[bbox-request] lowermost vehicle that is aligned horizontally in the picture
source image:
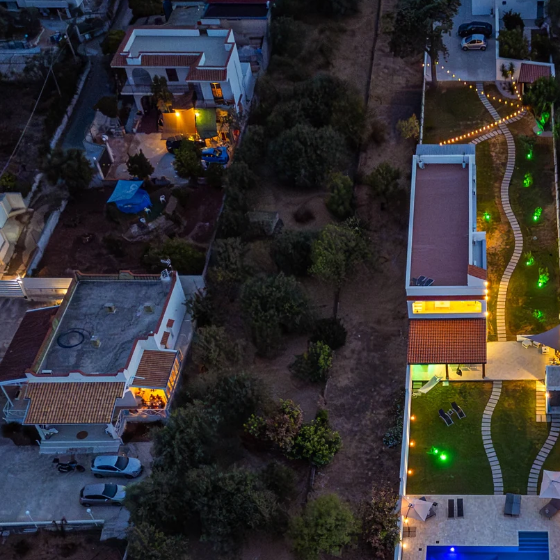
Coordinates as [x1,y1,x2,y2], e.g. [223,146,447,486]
[77,483,132,508]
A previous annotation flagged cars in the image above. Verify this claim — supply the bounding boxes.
[199,146,234,165]
[459,35,488,52]
[88,455,141,480]
[456,22,496,39]
[77,483,132,508]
